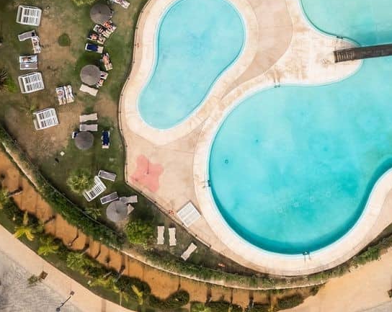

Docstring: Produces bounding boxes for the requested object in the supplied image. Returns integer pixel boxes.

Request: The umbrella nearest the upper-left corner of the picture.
[89,1,112,25]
